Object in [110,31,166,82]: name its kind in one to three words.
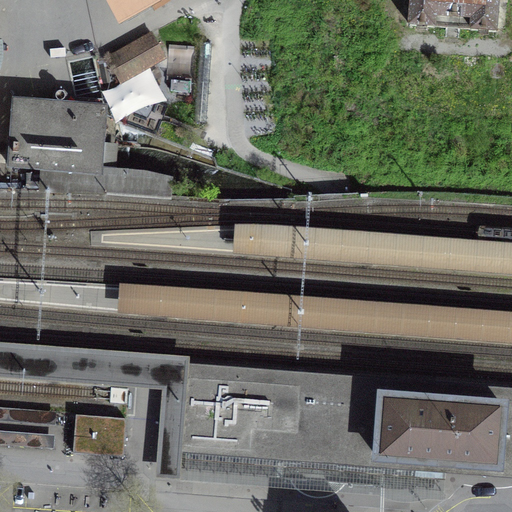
house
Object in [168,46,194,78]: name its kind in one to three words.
shed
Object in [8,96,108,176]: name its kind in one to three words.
building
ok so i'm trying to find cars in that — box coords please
[70,42,94,53]
[14,484,24,505]
[472,485,496,496]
